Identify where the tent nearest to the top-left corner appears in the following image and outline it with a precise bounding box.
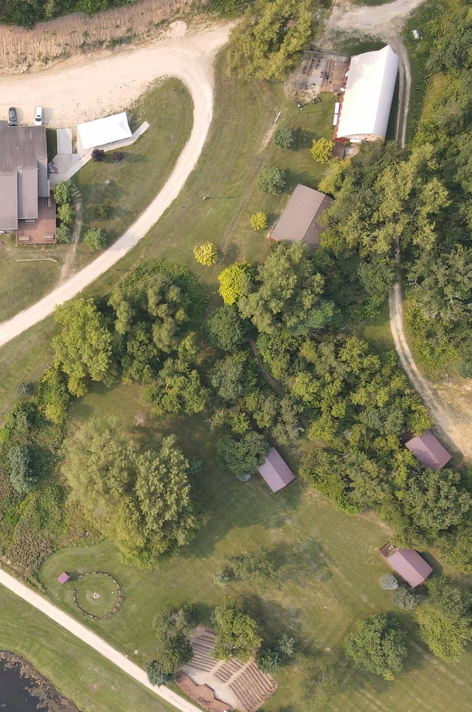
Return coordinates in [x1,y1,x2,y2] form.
[77,112,133,149]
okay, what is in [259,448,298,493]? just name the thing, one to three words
building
